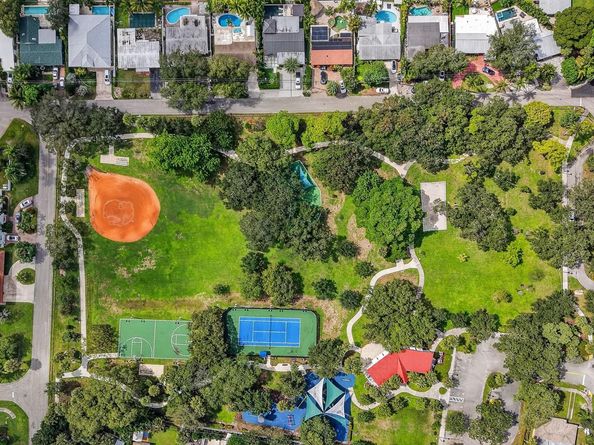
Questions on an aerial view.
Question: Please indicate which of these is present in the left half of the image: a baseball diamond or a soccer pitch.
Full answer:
Visible in the left half of the image is a baseball diamond.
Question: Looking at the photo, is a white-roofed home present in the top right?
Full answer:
Yes, you'll find a white-roofed home in the top right.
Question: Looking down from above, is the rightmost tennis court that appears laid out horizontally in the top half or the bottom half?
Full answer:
It is in the bottom half that the rightmost tennis court that appears laid out horizontally appears.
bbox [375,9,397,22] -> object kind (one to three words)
swimming pool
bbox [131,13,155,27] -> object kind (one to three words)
swimming pool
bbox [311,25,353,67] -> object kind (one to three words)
house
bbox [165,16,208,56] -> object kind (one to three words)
house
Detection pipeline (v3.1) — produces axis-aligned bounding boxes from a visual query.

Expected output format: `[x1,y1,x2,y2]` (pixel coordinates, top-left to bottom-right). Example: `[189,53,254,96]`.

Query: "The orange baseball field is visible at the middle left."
[86,167,160,243]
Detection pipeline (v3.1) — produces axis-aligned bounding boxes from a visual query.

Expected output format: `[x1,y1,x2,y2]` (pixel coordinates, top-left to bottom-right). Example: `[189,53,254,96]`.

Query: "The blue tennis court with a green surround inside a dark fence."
[224,310,318,356]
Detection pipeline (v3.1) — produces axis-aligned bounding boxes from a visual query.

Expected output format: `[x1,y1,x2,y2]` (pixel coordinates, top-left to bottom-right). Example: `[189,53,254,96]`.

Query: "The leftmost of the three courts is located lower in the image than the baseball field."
[119,320,198,359]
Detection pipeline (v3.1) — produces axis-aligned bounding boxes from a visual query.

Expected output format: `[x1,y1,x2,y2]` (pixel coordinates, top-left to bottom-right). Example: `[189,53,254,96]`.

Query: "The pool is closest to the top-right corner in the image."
[497,7,517,21]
